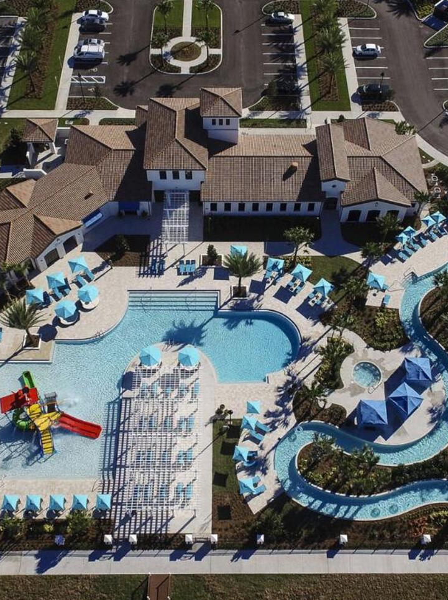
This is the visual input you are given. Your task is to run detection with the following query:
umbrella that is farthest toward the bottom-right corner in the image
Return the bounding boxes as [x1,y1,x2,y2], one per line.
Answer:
[240,477,258,495]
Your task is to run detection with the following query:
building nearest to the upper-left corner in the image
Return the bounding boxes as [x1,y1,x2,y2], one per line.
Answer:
[21,118,60,144]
